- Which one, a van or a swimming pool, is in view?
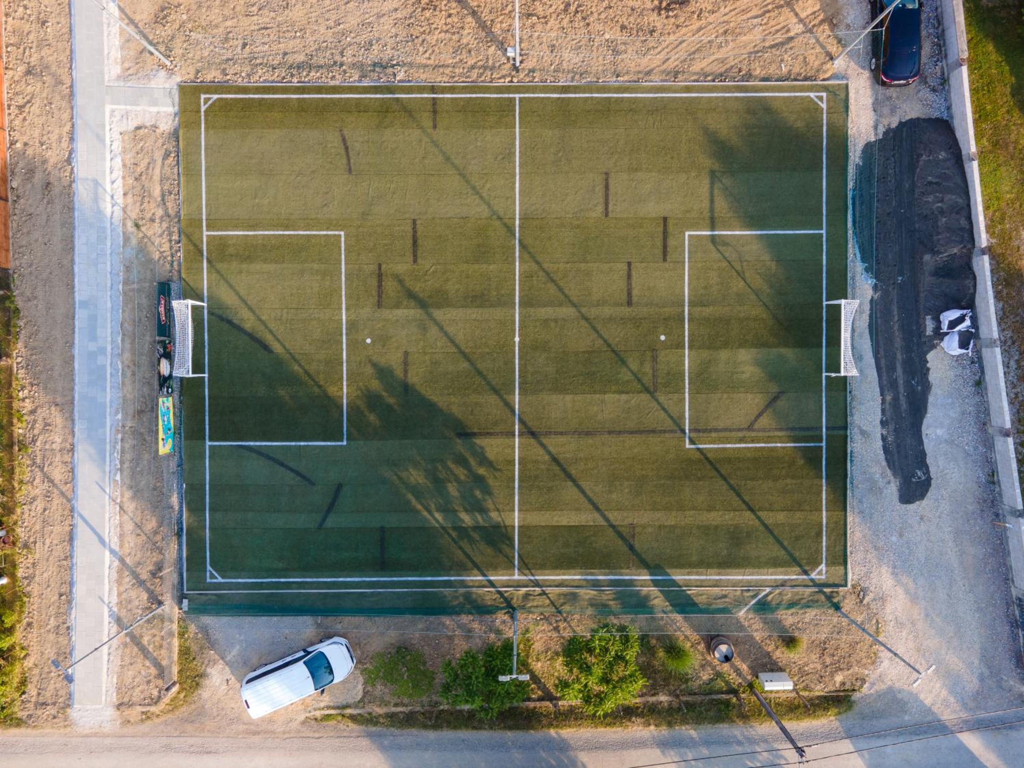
van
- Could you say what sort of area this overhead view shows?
sports ground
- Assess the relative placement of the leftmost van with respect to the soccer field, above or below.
below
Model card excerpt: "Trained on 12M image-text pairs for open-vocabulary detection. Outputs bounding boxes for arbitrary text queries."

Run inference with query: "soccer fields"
[178,81,864,615]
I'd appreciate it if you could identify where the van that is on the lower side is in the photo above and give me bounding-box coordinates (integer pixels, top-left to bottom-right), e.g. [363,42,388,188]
[242,637,357,718]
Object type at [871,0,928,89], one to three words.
car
